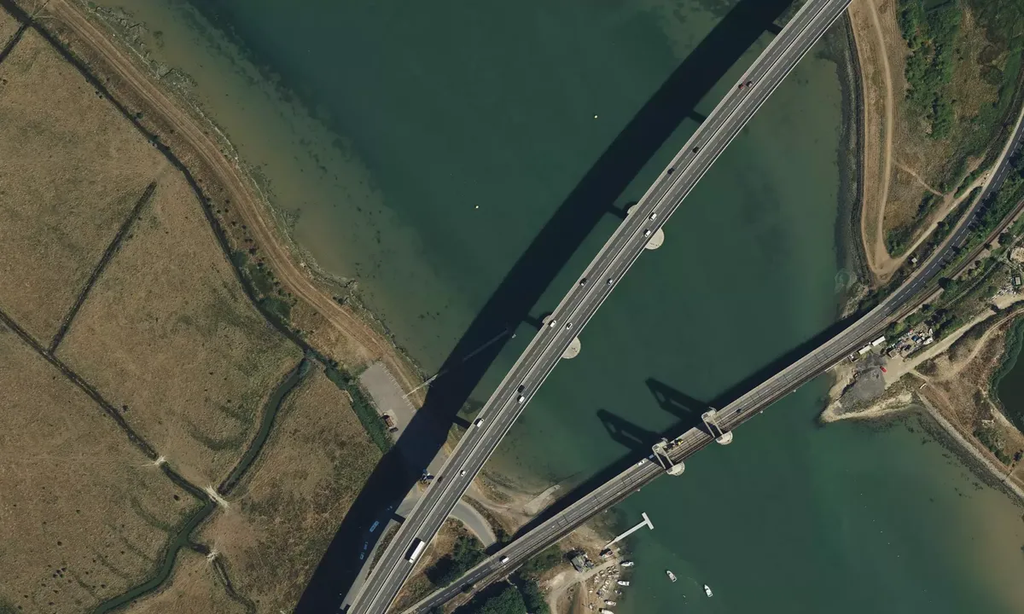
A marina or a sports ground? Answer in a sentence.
The picture captures a marina.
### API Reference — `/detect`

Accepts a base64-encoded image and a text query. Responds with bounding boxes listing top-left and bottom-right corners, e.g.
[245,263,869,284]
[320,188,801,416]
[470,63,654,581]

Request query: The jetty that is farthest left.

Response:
[404,330,508,396]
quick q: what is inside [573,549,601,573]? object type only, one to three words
building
